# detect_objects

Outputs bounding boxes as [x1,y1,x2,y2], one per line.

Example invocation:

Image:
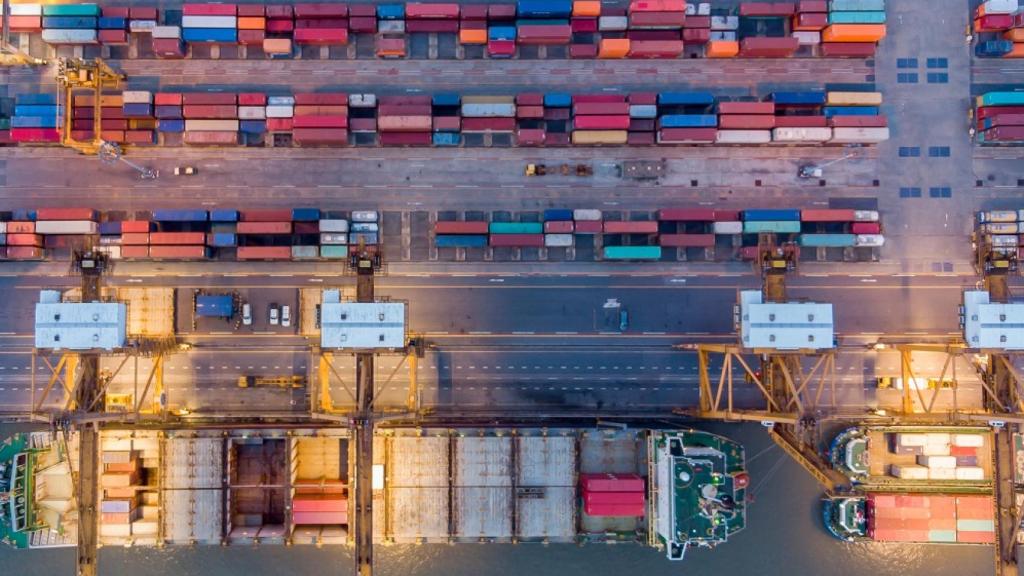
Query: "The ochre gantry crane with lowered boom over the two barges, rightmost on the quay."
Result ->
[874,233,1024,576]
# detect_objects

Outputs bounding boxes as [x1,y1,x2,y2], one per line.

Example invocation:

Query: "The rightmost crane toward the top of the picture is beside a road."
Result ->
[58,56,127,154]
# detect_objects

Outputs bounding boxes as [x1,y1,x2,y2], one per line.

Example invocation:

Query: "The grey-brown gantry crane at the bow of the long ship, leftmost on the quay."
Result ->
[29,233,189,576]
